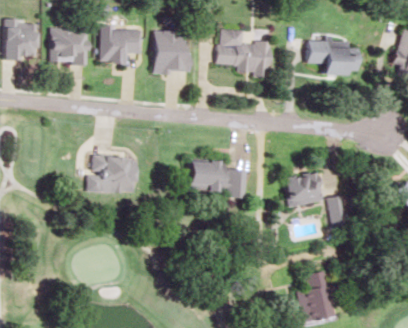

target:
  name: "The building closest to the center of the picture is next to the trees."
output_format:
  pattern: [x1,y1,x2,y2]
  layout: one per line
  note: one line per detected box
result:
[193,161,247,198]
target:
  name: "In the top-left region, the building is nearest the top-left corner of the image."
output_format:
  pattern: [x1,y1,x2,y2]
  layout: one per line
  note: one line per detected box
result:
[4,18,40,60]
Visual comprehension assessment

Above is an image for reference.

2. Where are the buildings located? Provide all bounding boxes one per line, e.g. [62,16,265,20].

[305,37,362,76]
[298,271,338,328]
[326,196,344,225]
[100,26,141,66]
[50,27,91,65]
[84,156,140,194]
[288,172,324,208]
[390,28,408,78]
[193,161,247,198]
[4,18,40,60]
[154,31,192,75]
[216,30,274,78]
